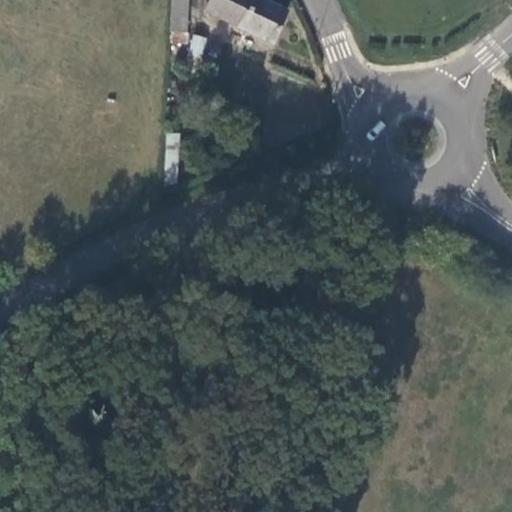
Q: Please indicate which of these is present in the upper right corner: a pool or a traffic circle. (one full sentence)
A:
You can see a traffic circle in the upper right corner.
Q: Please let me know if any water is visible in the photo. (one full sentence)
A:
No, water can't be seen anywhere here.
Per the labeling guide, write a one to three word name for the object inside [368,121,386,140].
car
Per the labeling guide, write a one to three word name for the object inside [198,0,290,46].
house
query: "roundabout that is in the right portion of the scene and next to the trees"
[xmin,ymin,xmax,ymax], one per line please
[340,64,486,207]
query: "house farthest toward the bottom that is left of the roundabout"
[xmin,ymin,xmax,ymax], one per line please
[164,132,181,184]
